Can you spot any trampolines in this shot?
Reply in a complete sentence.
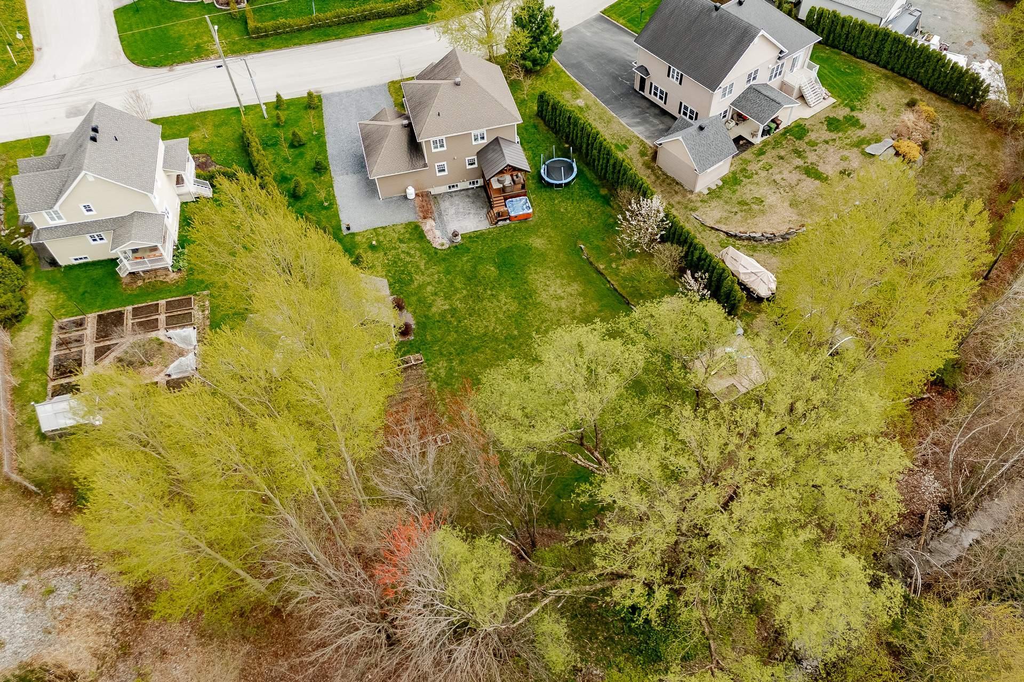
Yes, you can see a trampoline in this photo.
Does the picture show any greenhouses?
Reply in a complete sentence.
Yes, there's a greenhouse here.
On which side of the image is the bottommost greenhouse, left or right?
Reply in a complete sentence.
It is on the left.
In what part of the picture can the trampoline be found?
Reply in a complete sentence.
Look in the top portion of the view to spot the trampoline.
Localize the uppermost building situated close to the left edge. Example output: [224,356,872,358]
[11,102,211,275]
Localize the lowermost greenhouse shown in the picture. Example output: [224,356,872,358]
[35,383,107,435]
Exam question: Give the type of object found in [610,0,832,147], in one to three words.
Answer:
house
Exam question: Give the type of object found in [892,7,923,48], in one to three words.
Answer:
shed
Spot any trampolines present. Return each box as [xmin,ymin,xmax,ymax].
[541,144,577,190]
